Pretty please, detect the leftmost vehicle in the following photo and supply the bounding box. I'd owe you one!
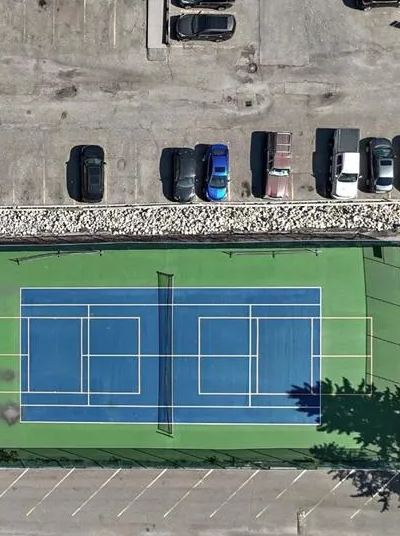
[79,144,108,203]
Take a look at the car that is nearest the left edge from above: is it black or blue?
black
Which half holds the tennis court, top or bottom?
bottom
